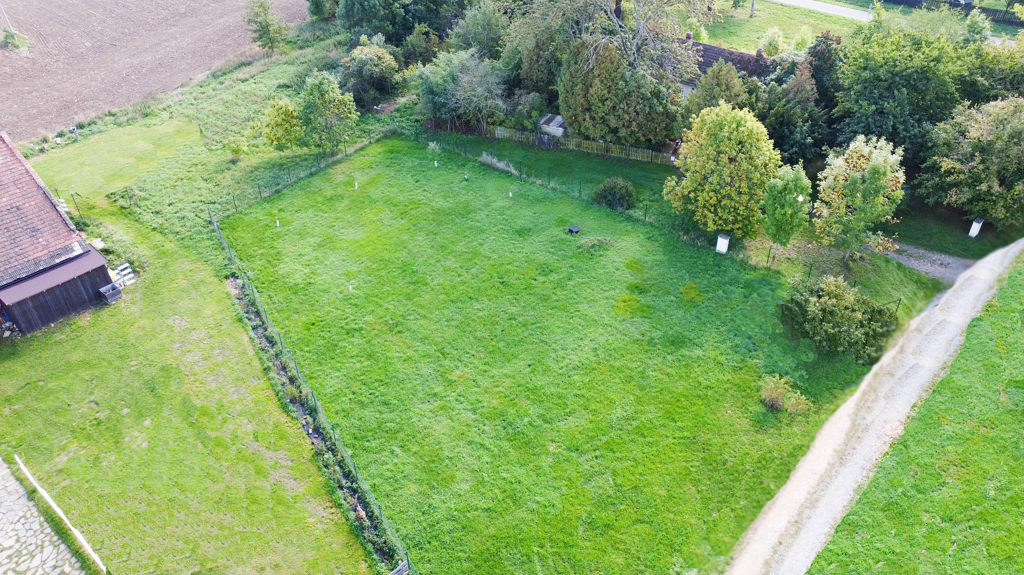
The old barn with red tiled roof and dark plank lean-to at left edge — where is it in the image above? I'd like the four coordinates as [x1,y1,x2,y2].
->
[0,129,116,335]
